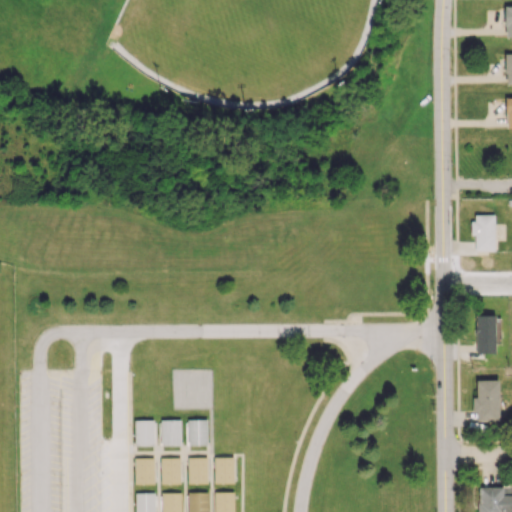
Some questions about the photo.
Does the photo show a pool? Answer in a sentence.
No, there appears to be no pool in this shot.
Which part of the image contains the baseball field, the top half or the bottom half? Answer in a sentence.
The top half of the photo is where the baseball field is.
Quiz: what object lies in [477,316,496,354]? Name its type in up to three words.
house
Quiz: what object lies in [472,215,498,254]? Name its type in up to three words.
house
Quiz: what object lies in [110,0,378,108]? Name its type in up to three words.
baseball field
